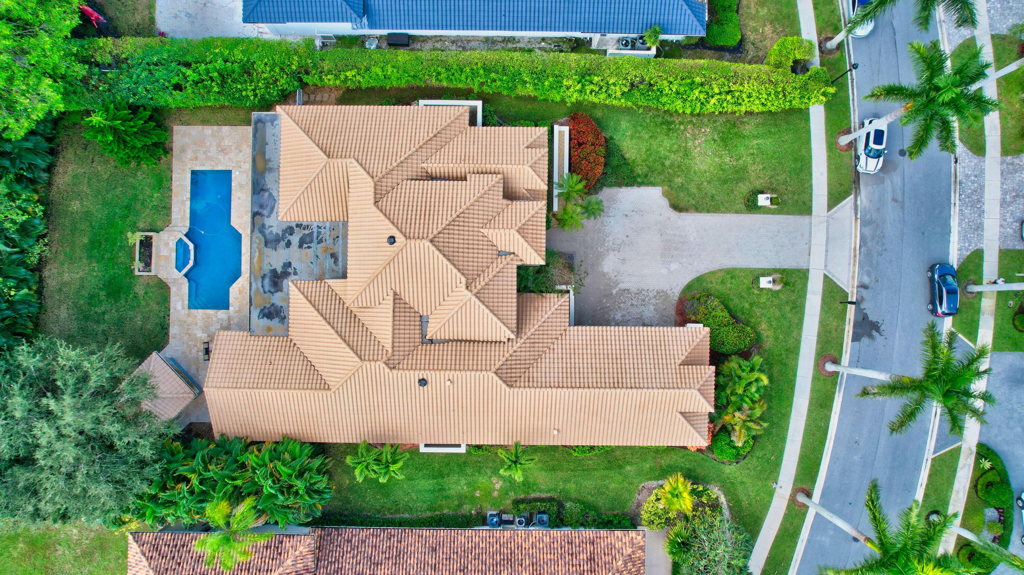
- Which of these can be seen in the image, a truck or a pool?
pool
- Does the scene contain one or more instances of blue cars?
Yes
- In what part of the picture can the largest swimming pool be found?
left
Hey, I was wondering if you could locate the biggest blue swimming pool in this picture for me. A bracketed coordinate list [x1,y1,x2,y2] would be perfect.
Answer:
[184,170,242,310]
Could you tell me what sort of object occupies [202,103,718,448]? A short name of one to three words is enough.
house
